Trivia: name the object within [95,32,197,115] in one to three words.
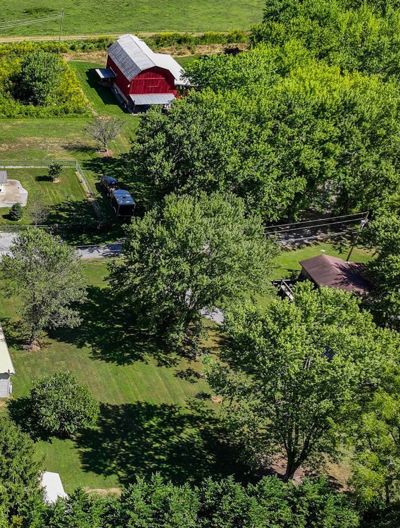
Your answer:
barn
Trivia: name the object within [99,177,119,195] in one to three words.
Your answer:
vehicle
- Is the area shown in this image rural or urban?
rural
